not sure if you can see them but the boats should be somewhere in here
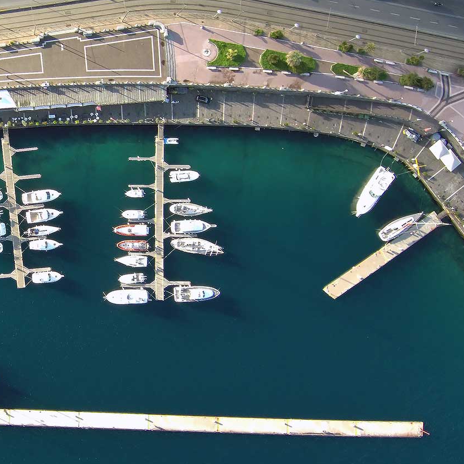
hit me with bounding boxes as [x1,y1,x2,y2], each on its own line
[356,165,397,219]
[27,271,64,284]
[115,240,153,250]
[24,208,63,223]
[168,234,225,256]
[118,210,149,219]
[100,288,154,304]
[165,201,214,216]
[169,285,221,302]
[164,170,200,182]
[0,221,9,237]
[22,225,63,237]
[380,213,442,242]
[166,219,219,234]
[164,138,180,144]
[112,223,153,237]
[116,273,146,283]
[113,254,154,268]
[20,189,63,206]
[25,239,63,251]
[121,189,148,197]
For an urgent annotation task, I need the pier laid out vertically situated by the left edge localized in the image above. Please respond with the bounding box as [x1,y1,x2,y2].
[0,125,52,288]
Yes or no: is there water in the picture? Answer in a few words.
Yes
